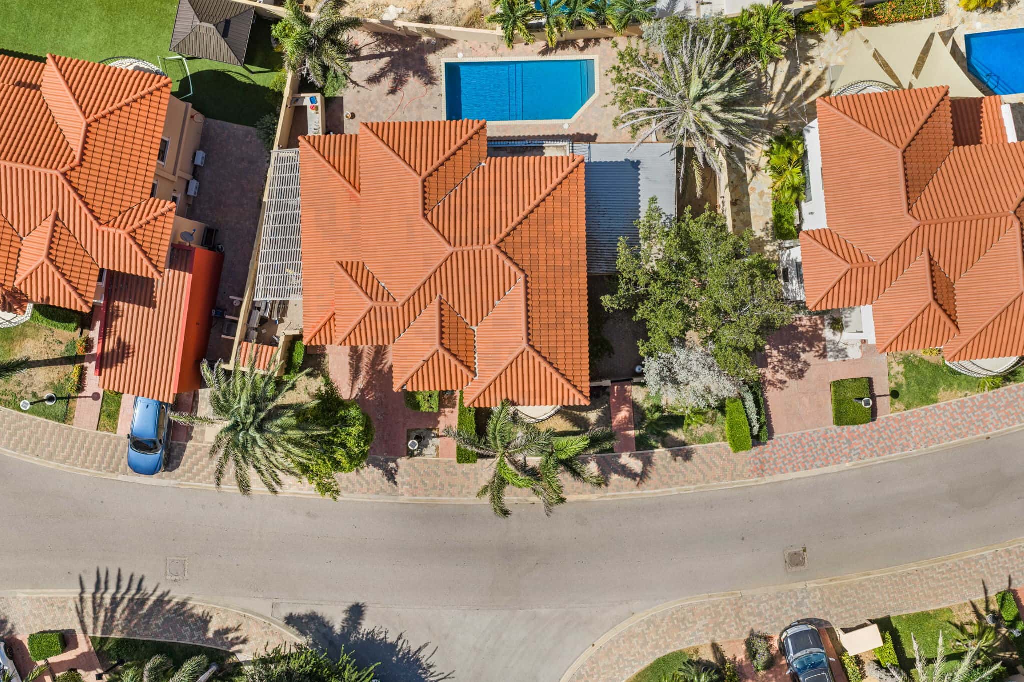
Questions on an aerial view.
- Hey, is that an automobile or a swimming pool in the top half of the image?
swimming pool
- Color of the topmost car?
blue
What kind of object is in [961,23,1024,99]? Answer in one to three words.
swimming pool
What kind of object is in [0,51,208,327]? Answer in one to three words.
house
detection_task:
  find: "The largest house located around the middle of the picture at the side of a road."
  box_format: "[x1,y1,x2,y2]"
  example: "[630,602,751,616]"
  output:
[297,117,592,424]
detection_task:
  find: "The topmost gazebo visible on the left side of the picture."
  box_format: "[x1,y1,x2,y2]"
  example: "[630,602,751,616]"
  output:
[169,0,266,79]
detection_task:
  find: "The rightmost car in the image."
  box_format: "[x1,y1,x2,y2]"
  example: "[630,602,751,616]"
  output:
[783,619,836,682]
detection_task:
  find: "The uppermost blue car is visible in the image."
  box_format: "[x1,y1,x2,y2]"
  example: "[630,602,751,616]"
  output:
[122,395,173,473]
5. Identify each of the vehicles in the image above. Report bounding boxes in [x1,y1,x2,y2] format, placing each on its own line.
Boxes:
[0,637,21,682]
[122,395,173,473]
[783,619,836,682]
